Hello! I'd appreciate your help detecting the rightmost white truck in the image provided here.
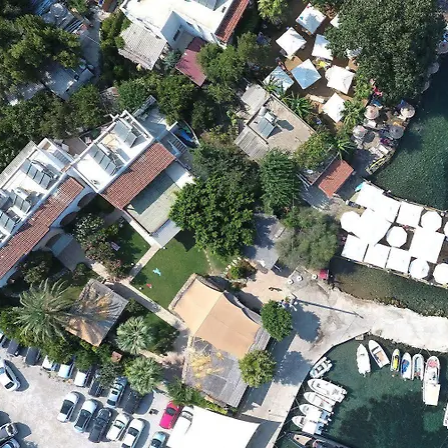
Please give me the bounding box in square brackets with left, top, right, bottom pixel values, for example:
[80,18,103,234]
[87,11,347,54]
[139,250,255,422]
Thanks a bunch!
[163,405,192,448]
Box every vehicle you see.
[105,373,130,408]
[41,350,62,374]
[24,332,48,367]
[0,319,12,343]
[0,358,21,390]
[76,397,100,432]
[58,388,82,422]
[159,401,181,430]
[87,363,112,397]
[148,429,168,448]
[90,406,114,442]
[108,411,131,443]
[73,359,95,388]
[120,382,146,418]
[5,334,27,358]
[148,408,160,416]
[57,354,77,382]
[122,416,146,448]
[163,405,192,448]
[0,422,21,441]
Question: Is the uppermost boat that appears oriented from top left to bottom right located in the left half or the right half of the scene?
right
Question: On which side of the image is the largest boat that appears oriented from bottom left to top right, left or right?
right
